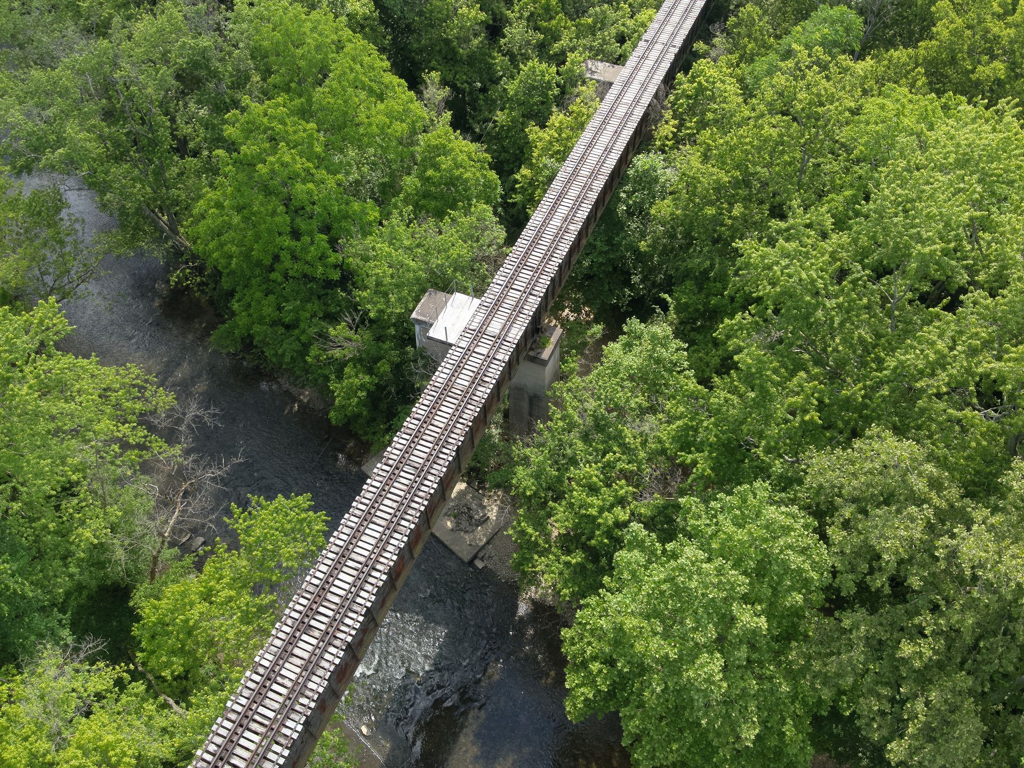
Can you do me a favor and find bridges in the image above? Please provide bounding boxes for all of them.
[189,0,715,768]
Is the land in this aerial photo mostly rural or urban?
rural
